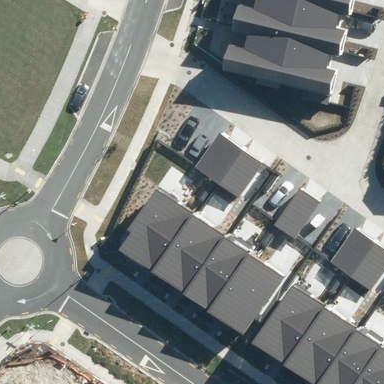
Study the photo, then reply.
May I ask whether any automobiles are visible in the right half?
Yes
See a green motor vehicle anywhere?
No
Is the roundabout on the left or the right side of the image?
left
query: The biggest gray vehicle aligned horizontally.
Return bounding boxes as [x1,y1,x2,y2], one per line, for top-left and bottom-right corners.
[343,17,376,34]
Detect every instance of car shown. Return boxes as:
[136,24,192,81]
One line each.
[322,223,348,255]
[343,17,376,34]
[188,134,208,160]
[266,180,291,210]
[68,84,89,114]
[176,117,197,150]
